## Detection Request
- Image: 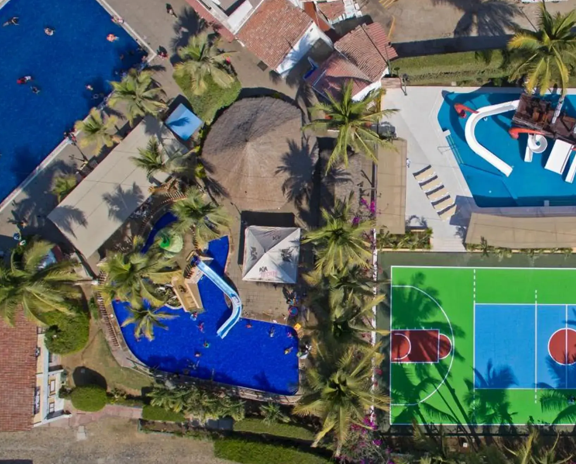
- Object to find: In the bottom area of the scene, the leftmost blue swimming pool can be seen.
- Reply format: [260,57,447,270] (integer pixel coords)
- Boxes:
[109,208,301,399]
